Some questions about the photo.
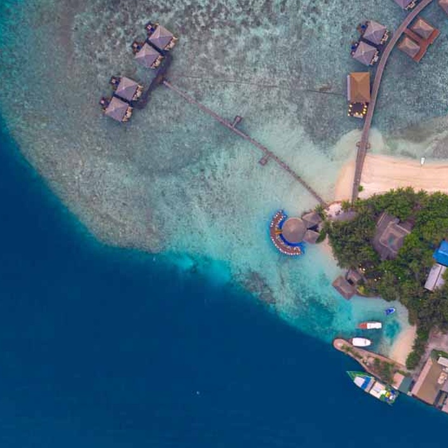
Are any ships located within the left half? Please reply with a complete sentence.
No, no ship can be made out within the left half.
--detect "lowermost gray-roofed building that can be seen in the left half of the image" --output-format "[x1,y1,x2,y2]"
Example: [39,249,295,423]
[102,94,135,122]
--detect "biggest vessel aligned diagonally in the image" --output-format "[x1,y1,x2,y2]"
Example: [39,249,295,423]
[349,370,398,409]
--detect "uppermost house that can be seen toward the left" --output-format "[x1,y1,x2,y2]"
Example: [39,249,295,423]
[147,20,179,53]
